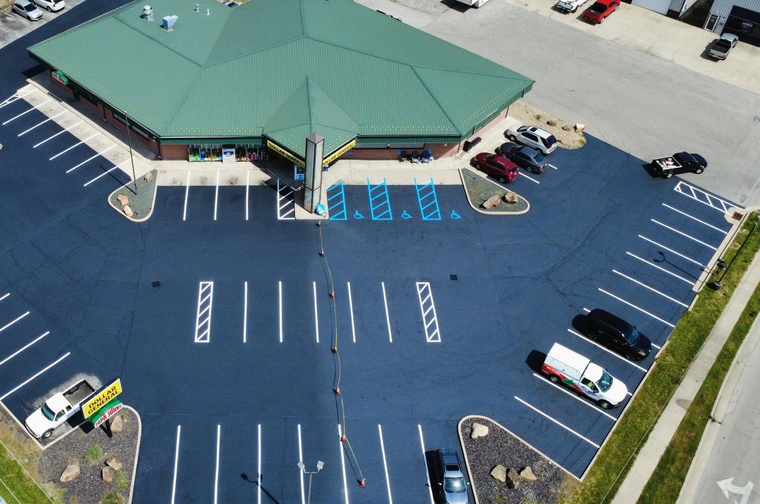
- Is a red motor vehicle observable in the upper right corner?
Yes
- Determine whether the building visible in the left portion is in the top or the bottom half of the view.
top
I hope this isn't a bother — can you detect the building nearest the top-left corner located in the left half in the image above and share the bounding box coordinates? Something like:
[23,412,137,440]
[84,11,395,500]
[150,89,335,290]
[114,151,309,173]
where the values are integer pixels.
[26,0,536,169]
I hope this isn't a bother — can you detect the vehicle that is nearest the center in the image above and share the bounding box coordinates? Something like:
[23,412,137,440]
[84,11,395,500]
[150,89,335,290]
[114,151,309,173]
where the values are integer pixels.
[467,152,524,186]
